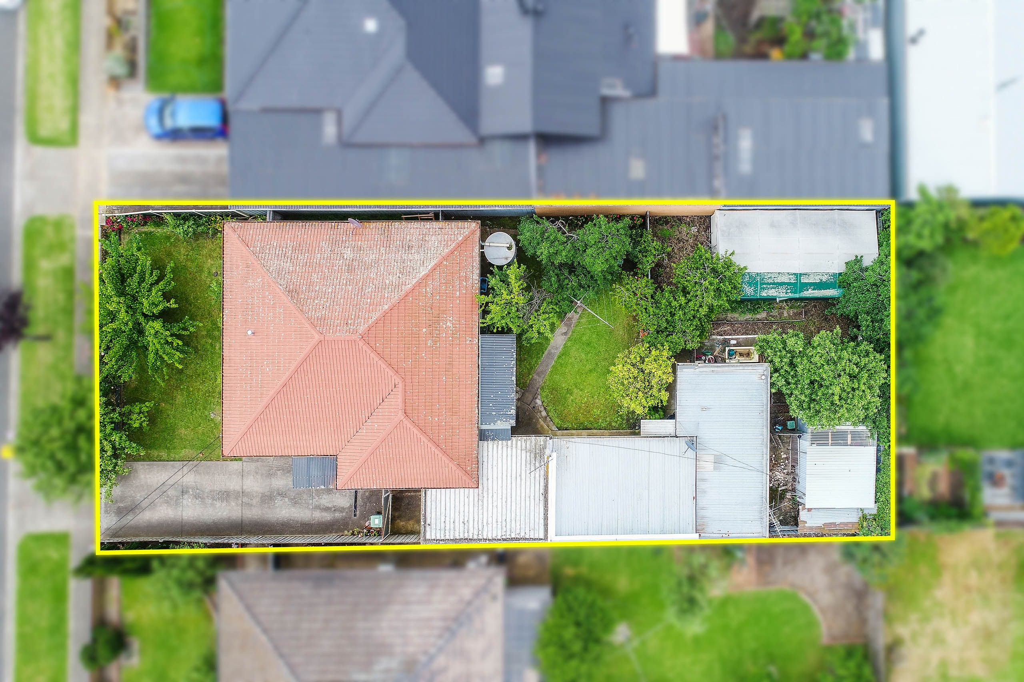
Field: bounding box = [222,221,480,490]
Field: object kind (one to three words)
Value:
house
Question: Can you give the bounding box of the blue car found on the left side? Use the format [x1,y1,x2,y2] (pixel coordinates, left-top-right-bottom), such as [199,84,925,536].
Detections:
[146,91,228,139]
